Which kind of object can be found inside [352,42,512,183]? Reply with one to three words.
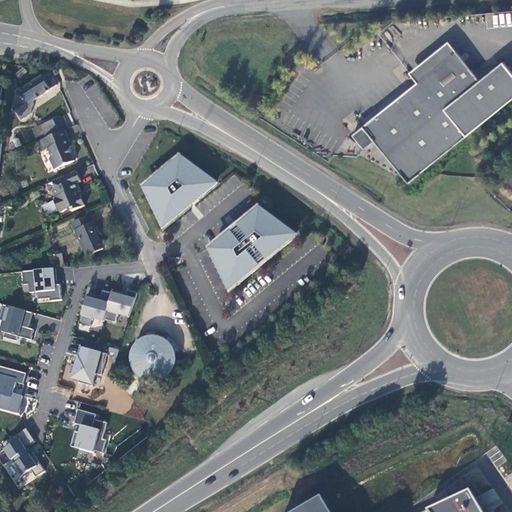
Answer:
building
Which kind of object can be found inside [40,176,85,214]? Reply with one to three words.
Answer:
house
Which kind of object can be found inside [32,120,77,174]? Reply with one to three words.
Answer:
house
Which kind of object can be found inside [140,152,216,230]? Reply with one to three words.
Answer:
building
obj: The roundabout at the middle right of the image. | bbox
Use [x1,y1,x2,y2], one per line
[377,210,512,396]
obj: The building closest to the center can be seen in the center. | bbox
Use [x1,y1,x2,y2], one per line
[206,204,296,292]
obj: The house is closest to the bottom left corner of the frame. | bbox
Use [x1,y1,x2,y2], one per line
[5,430,48,490]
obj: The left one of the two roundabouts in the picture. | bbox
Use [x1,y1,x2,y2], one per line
[110,41,188,121]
